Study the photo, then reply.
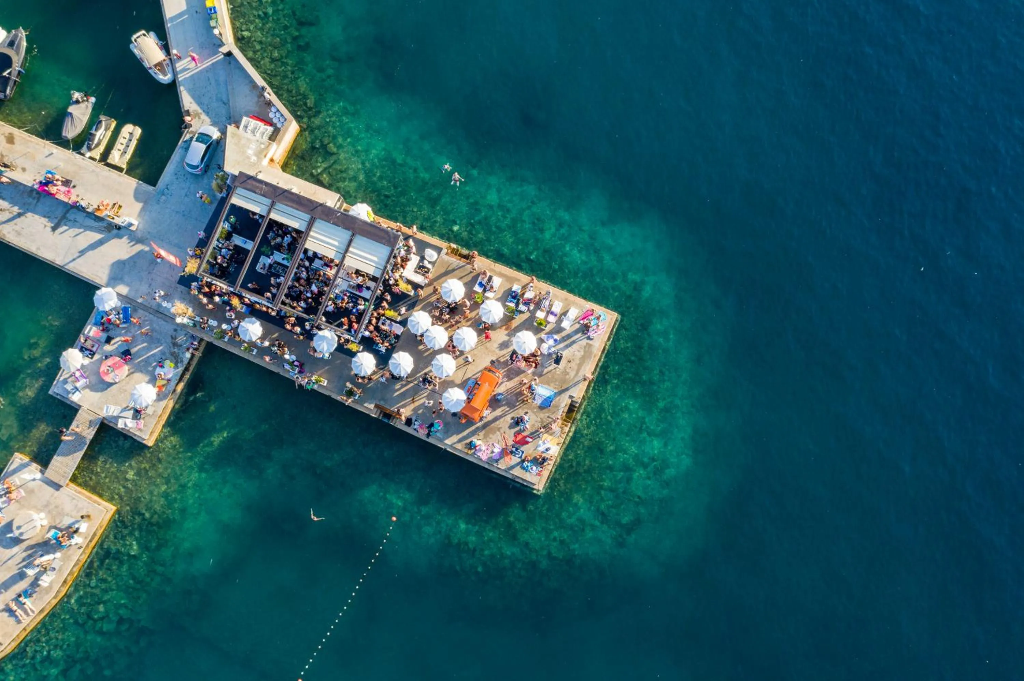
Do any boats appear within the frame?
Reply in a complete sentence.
Yes, the photo shows a boat.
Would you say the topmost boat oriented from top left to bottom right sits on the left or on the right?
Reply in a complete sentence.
The topmost boat oriented from top left to bottom right sits on the left side.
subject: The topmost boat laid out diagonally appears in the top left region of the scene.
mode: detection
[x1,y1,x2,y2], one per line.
[130,24,174,84]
